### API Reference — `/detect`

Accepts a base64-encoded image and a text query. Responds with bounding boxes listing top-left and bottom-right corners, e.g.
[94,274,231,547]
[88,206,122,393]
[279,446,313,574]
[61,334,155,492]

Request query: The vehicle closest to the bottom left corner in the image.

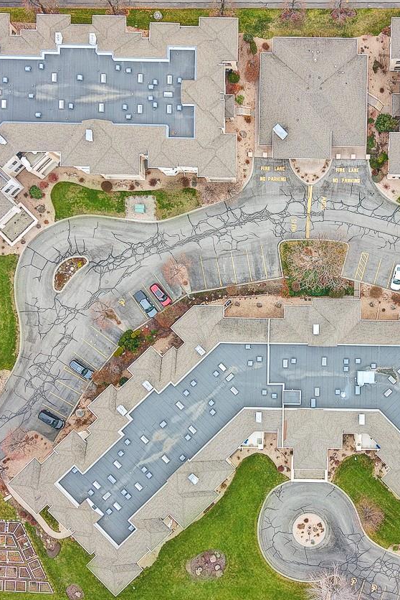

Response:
[37,408,65,431]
